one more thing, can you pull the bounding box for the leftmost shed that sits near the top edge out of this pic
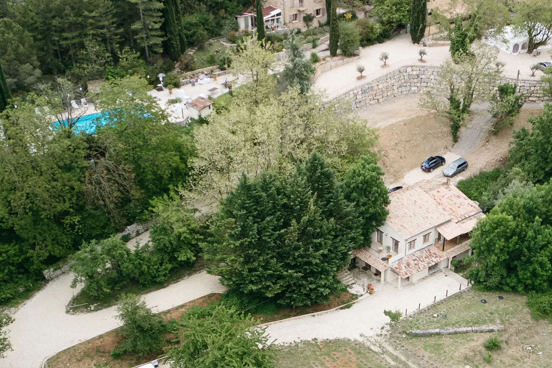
[235,12,253,41]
